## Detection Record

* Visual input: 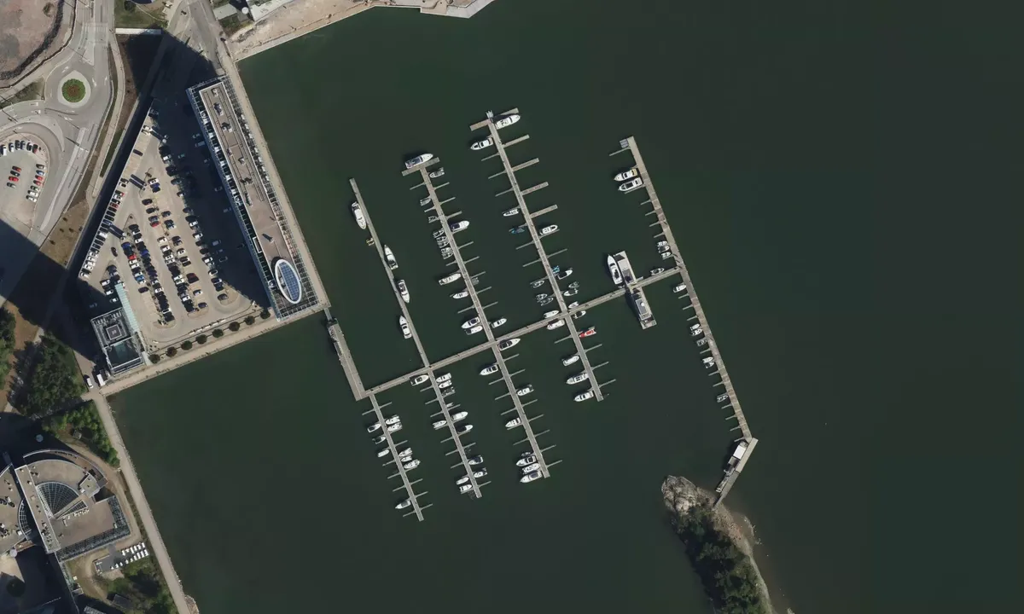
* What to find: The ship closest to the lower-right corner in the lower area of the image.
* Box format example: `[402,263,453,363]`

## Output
[716,441,748,493]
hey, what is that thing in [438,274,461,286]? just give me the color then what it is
white boat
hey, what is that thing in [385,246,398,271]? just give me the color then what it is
white boat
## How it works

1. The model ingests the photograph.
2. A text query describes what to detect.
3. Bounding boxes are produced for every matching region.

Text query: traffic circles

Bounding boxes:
[57,69,90,104]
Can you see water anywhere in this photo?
Yes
